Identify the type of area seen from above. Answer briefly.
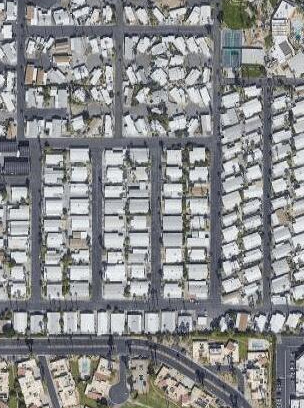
residential area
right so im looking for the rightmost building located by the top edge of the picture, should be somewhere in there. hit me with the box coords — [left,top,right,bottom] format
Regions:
[271,1,304,77]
